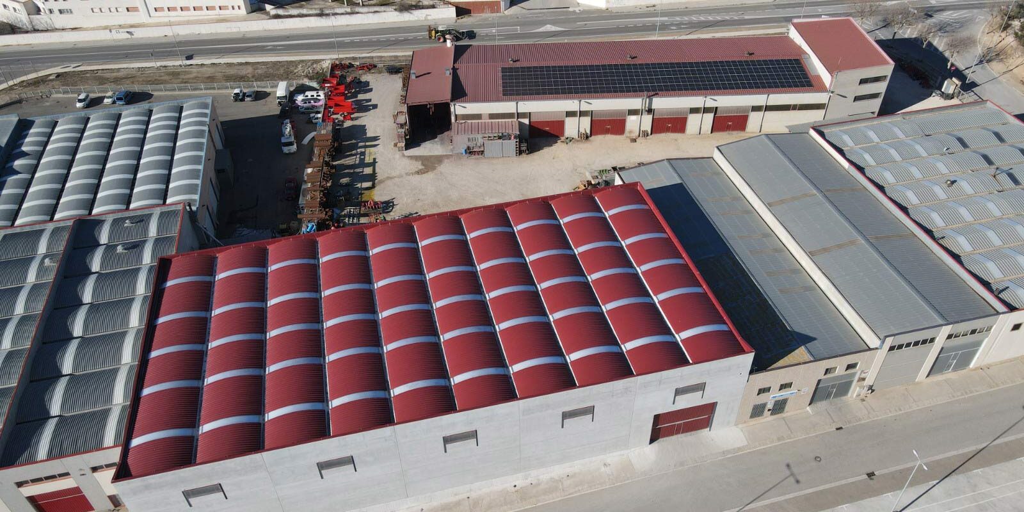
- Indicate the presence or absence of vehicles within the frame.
Yes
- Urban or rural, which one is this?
urban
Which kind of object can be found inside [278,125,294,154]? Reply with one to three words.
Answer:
vehicle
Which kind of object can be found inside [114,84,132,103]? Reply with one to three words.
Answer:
car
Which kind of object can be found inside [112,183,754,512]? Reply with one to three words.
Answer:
warehouse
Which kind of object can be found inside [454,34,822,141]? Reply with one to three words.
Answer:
building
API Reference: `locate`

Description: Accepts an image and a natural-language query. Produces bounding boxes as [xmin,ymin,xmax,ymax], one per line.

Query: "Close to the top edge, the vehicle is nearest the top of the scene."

[429,23,470,41]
